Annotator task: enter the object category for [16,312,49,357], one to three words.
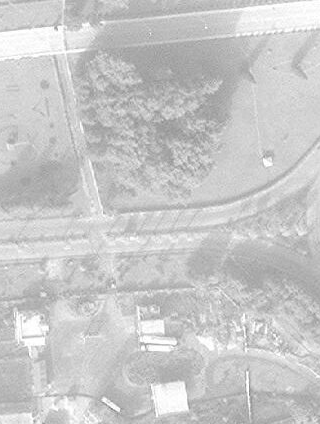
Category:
house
